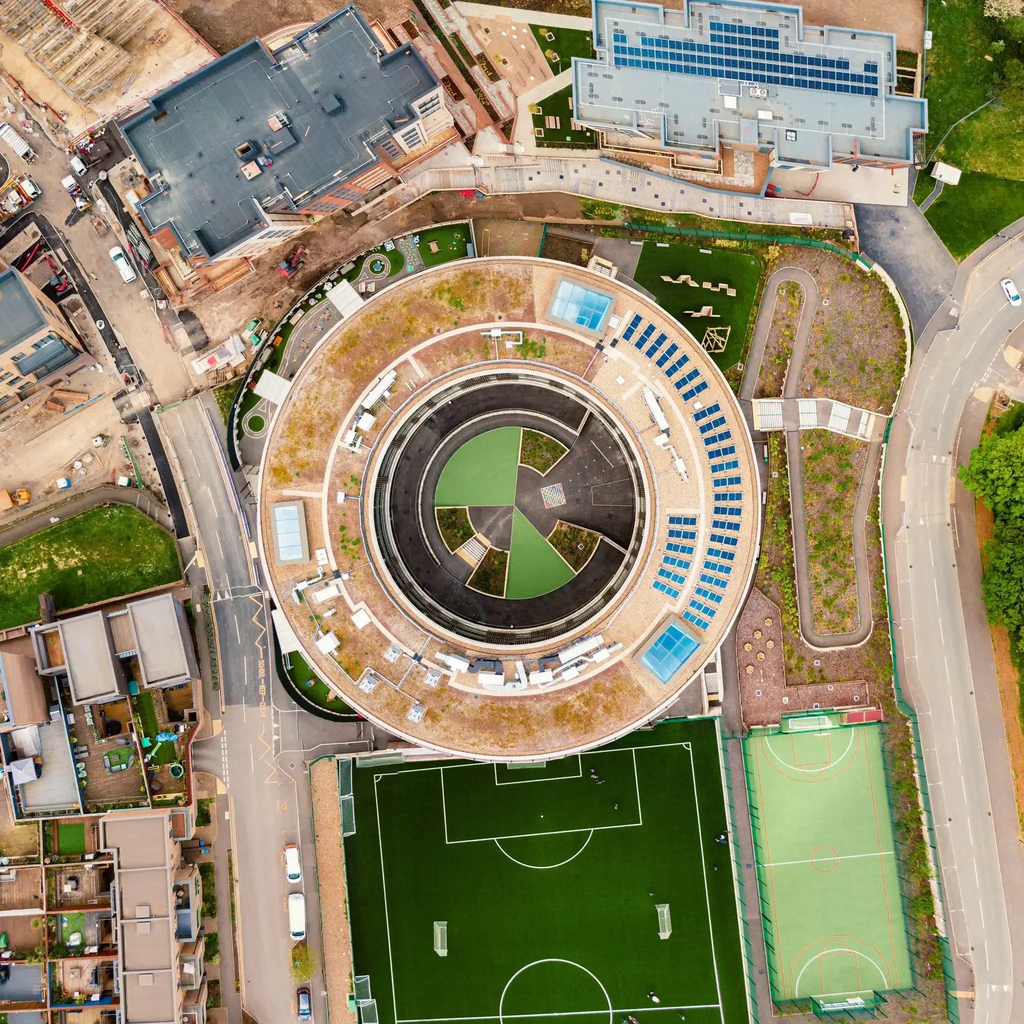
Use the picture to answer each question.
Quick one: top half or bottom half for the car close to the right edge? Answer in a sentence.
The car close to the right edge sits in the top half of the picture.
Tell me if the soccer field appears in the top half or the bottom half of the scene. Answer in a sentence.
The bottom half of the photo is where the soccer field is.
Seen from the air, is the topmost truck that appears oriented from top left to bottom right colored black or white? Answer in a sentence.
From above, the topmost truck that appears oriented from top left to bottom right appears white.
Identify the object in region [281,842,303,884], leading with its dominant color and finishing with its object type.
white vehicle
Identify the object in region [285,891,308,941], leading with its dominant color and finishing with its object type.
white vehicle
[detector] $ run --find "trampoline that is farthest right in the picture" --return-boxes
[106,718,124,735]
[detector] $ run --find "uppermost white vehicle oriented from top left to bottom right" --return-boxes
[0,115,39,172]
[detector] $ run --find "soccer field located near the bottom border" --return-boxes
[344,718,749,1024]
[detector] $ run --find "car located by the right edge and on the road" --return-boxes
[996,273,1024,312]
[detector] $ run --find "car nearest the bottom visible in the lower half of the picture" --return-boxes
[294,985,313,1021]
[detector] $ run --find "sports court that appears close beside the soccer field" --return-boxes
[744,714,913,999]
